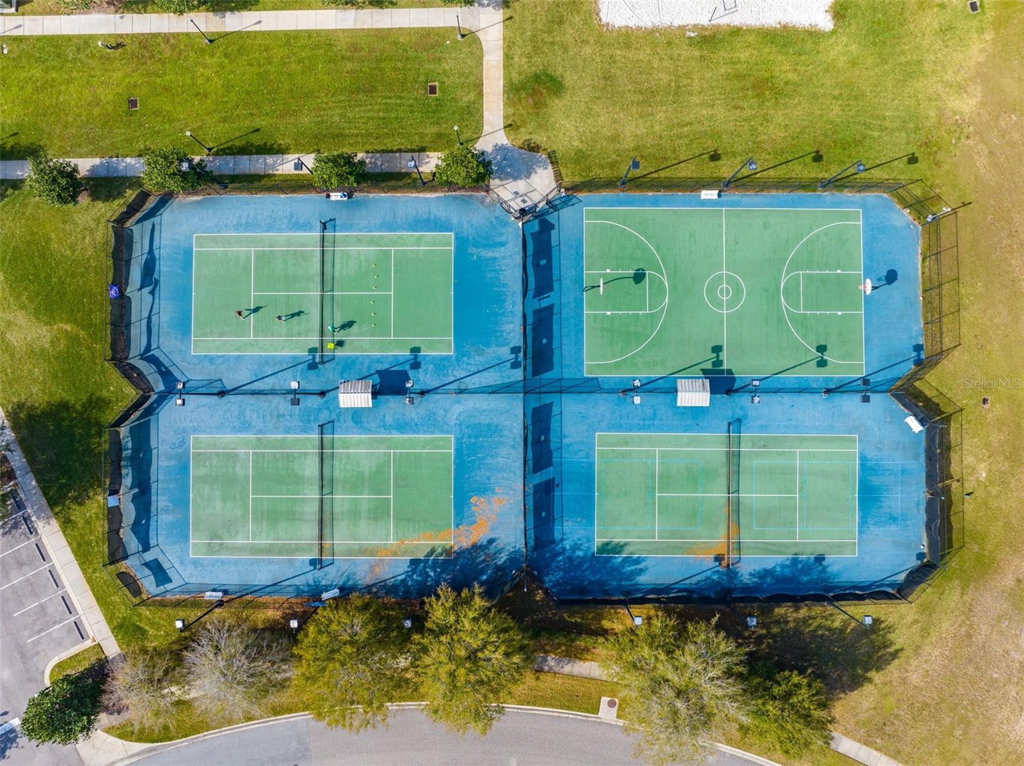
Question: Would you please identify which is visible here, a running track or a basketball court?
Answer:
basketball court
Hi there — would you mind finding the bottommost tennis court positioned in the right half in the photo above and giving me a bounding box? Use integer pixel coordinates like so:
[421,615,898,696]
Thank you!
[524,393,928,599]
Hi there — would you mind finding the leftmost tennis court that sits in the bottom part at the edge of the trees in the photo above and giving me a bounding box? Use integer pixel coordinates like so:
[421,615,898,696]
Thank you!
[121,393,524,599]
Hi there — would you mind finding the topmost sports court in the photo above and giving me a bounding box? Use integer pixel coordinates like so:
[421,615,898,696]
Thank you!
[600,0,834,31]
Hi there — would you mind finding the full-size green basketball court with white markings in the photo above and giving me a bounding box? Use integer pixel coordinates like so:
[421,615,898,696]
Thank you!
[523,193,924,392]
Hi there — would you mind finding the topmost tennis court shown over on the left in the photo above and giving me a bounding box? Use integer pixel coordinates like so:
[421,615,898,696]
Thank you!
[125,193,524,393]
